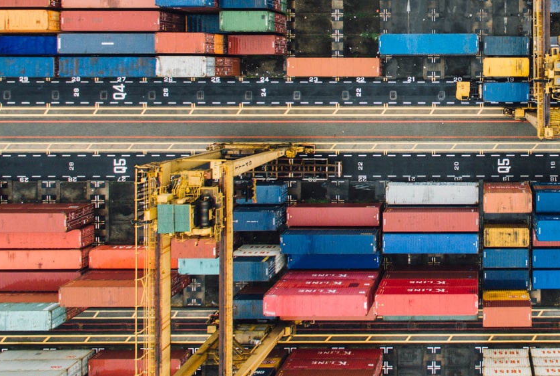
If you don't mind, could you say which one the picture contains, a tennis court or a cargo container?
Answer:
cargo container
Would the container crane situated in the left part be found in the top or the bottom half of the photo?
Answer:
bottom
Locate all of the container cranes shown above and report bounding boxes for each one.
[128,142,312,376]
[501,0,560,140]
